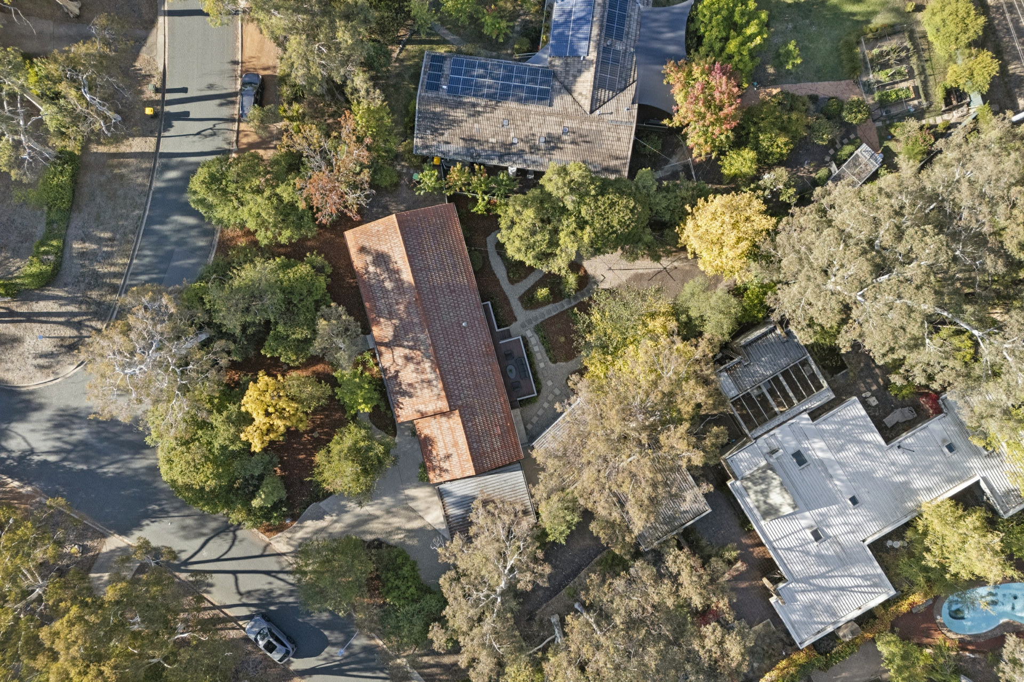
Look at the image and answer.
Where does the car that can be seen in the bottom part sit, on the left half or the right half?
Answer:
left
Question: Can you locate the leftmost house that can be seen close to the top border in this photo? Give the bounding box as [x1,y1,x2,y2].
[412,0,643,182]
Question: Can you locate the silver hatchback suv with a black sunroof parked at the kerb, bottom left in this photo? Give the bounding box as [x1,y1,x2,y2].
[238,609,303,669]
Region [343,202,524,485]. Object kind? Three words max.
house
